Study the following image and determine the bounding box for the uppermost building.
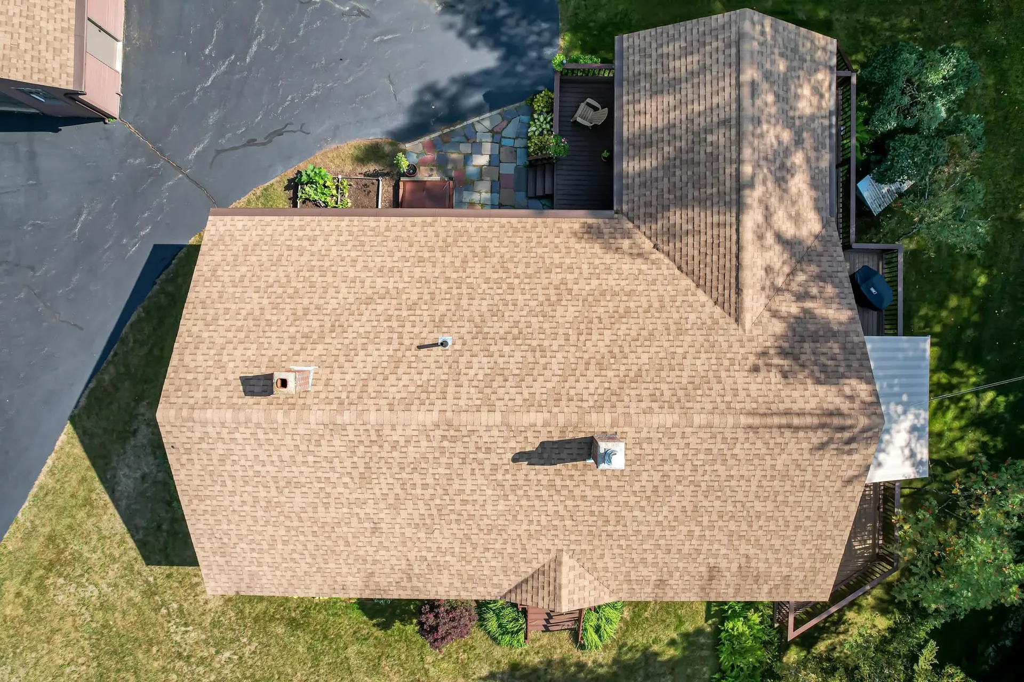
[0,0,124,122]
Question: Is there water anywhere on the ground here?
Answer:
No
